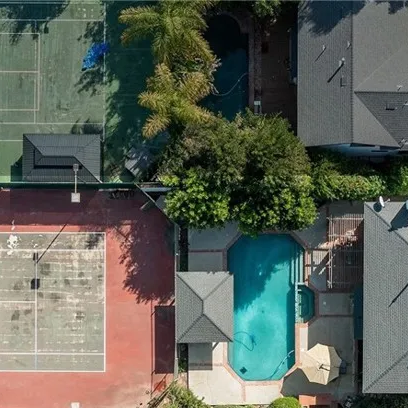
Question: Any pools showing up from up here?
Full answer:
Yes, looking at the shot, I can spot a pool.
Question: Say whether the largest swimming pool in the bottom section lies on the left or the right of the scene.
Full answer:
The largest swimming pool in the bottom section appears in the right half of the scene.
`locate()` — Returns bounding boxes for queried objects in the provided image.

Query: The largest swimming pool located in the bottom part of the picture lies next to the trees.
[224,231,308,383]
